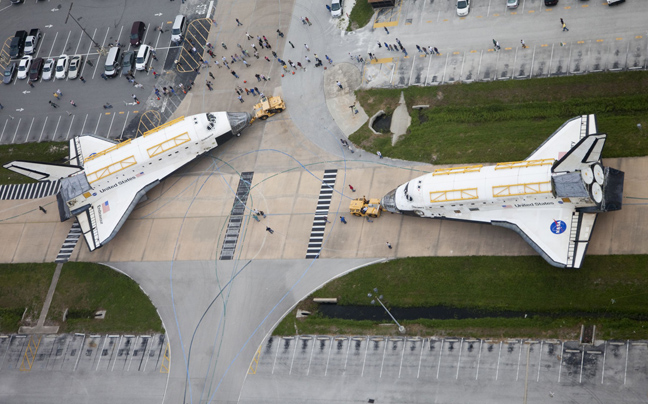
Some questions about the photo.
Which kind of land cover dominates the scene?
paved ground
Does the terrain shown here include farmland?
No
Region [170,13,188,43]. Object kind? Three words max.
car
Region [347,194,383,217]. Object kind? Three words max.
work vehicle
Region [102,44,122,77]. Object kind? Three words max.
vehicle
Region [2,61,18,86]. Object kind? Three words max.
car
